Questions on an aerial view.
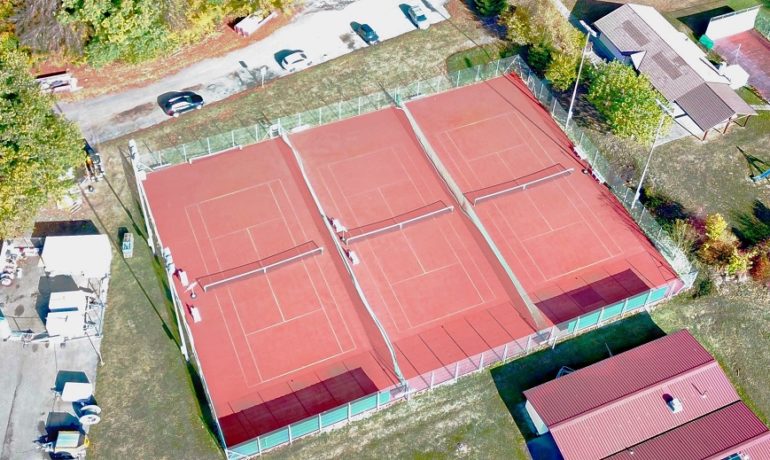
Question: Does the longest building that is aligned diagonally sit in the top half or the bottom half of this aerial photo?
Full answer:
You can find the longest building that is aligned diagonally in the top half.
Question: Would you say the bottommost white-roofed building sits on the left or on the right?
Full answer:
It is on the left.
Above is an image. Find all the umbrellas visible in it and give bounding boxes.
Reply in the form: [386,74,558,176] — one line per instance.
[723,65,757,91]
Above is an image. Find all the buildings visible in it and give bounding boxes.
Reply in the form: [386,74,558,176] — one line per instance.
[591,3,759,143]
[523,325,770,460]
[41,235,113,280]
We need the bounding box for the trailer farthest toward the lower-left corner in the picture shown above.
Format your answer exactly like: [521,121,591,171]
[44,430,84,455]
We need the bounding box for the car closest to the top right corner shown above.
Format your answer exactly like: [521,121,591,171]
[405,4,432,27]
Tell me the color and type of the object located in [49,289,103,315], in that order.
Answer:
white trailer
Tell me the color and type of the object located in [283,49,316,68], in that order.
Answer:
white car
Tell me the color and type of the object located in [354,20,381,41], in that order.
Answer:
blue car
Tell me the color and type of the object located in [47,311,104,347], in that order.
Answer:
white trailer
